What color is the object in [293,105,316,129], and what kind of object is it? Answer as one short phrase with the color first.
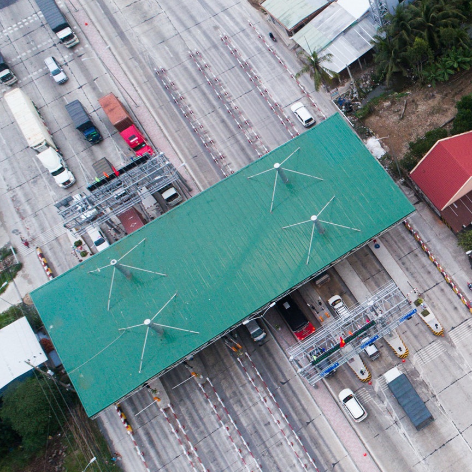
white car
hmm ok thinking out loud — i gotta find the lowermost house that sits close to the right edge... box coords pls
[409,130,472,224]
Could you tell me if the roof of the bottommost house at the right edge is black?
No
